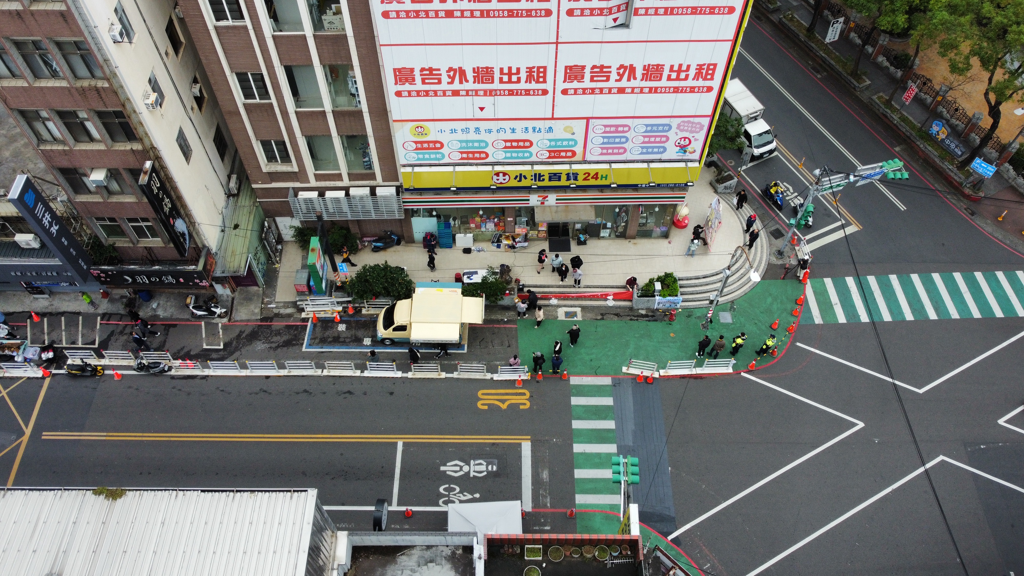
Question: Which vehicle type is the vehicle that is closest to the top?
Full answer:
It looks like the vehicle that is closest to the top is a truck.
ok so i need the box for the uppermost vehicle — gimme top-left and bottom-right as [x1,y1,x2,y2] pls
[720,77,778,164]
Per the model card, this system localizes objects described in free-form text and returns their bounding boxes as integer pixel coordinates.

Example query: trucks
[372,278,486,346]
[720,77,778,164]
